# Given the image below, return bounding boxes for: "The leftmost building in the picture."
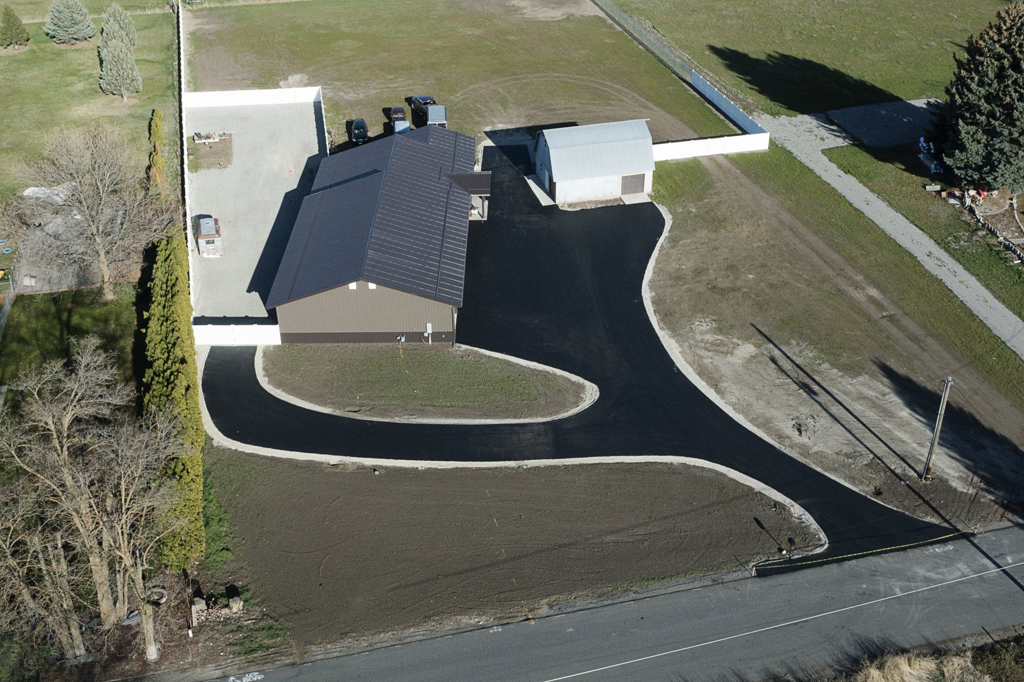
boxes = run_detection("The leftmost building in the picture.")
[264,123,493,346]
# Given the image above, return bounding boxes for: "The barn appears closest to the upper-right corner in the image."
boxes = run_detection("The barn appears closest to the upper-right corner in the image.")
[525,117,657,205]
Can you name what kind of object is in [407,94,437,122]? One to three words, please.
truck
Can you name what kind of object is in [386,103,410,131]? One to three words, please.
car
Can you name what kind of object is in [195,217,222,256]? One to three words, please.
trailer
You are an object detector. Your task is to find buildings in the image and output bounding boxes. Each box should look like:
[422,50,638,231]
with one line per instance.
[264,123,493,346]
[525,117,657,205]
